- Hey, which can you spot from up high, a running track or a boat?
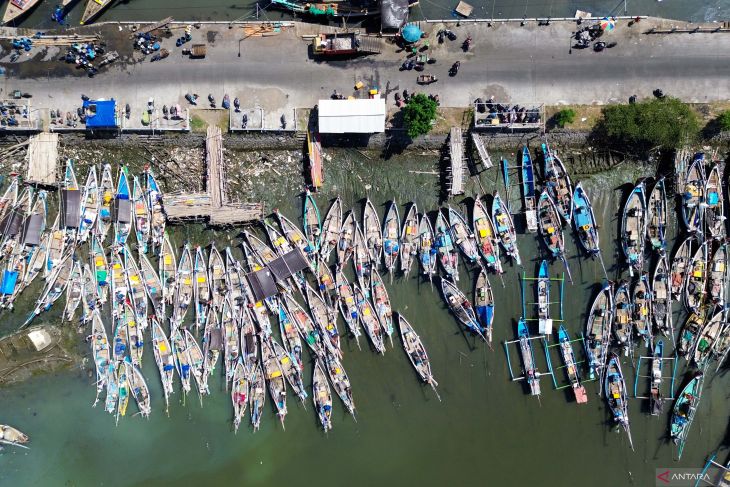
boat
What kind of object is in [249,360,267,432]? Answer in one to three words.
boat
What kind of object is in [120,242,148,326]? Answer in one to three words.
boat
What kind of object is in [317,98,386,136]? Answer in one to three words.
shed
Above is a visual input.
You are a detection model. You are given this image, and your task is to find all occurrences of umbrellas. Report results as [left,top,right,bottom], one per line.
[401,24,421,43]
[599,14,615,30]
